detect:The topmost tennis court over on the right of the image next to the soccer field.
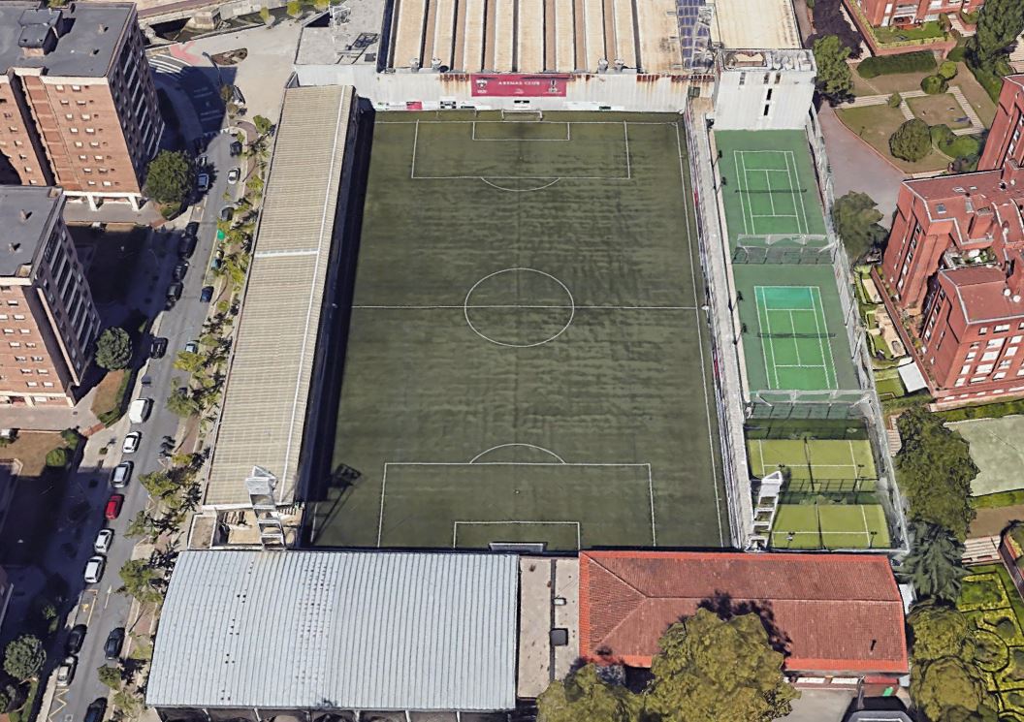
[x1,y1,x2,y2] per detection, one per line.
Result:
[715,129,842,262]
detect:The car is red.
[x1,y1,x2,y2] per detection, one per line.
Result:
[104,493,123,517]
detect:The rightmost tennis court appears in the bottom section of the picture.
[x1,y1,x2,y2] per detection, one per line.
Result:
[959,413,1024,494]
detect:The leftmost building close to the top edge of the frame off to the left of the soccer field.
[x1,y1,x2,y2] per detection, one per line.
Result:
[0,0,159,211]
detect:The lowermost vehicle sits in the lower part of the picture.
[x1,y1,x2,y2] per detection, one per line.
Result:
[85,697,105,722]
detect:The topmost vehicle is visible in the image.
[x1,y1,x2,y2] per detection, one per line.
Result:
[230,82,244,103]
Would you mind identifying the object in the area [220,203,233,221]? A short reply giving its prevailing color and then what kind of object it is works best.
gray vehicle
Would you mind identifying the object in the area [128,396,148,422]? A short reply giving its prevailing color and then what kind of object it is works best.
white vehicle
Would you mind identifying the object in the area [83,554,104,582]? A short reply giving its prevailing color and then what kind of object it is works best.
white car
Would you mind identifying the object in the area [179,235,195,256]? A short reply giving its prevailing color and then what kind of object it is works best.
black vehicle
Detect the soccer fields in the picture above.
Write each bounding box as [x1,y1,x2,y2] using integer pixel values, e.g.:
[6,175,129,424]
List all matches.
[297,109,731,579]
